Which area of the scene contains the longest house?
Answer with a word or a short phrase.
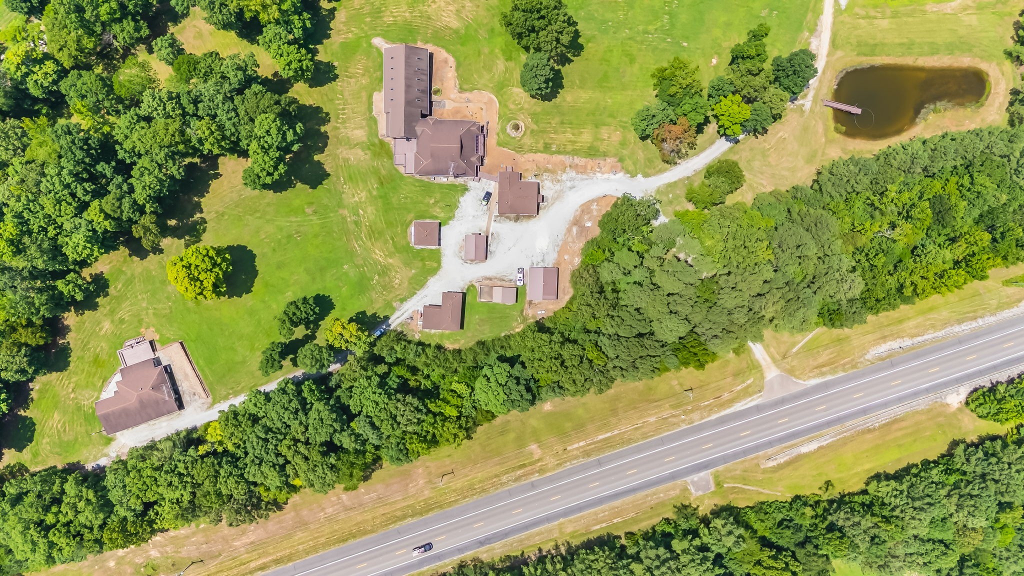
top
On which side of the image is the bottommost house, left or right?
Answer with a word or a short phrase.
left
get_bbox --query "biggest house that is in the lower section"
[95,336,182,435]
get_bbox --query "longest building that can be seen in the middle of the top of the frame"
[384,44,498,181]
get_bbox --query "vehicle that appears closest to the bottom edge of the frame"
[412,544,433,557]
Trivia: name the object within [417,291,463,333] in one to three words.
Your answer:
house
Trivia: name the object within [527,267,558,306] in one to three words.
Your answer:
building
